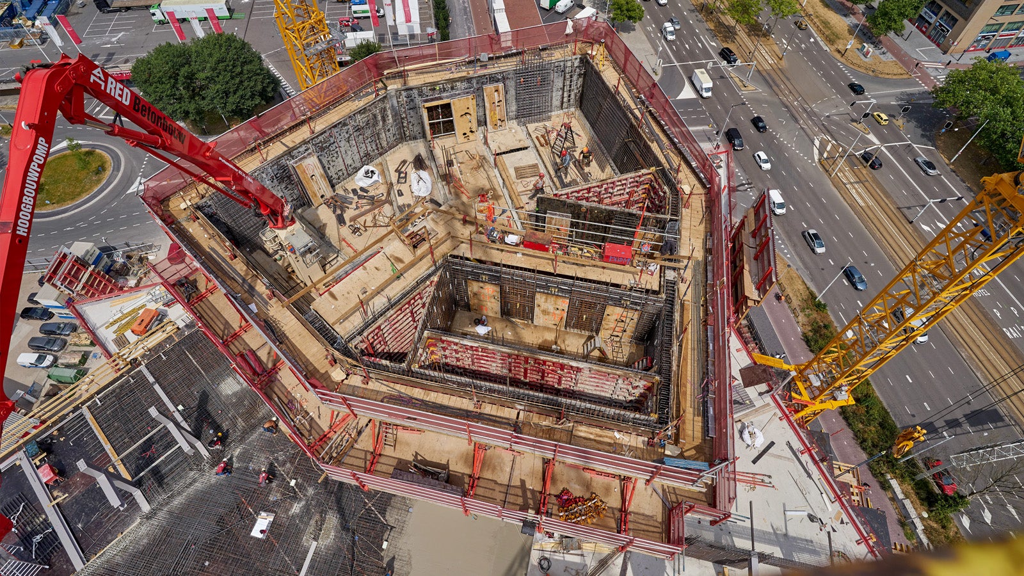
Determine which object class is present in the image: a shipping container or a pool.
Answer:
shipping container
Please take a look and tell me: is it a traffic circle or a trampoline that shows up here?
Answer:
traffic circle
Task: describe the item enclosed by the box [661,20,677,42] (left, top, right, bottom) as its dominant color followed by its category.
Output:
white vehicle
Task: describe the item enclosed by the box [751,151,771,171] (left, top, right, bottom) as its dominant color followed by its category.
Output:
white car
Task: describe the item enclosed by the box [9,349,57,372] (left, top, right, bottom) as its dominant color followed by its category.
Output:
white vehicle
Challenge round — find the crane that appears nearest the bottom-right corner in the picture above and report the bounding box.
[752,168,1024,429]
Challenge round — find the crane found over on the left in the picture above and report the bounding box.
[274,0,365,89]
